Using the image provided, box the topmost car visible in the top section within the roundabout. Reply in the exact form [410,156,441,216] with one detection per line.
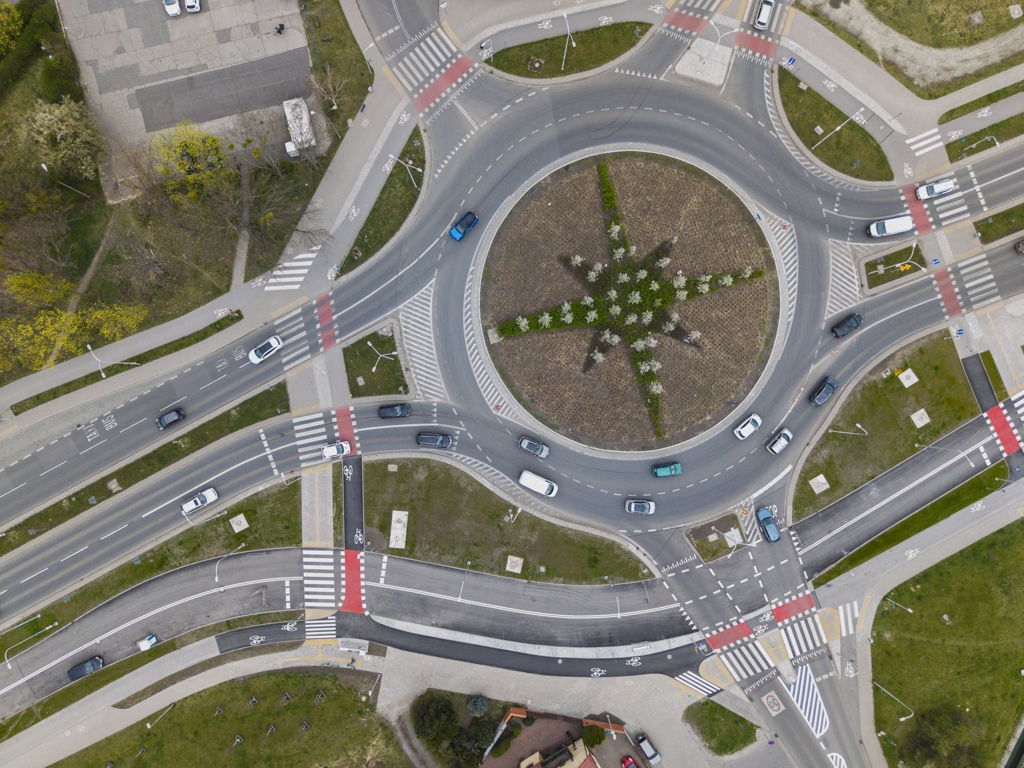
[451,212,478,242]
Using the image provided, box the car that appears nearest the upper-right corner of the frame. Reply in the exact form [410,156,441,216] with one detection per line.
[914,179,954,201]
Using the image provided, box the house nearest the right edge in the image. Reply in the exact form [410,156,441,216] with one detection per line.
[520,728,601,768]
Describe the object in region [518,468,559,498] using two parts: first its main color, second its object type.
white van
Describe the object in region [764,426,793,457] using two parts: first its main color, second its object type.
white car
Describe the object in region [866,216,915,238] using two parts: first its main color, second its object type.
white vehicle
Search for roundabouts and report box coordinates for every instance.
[401,73,860,531]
